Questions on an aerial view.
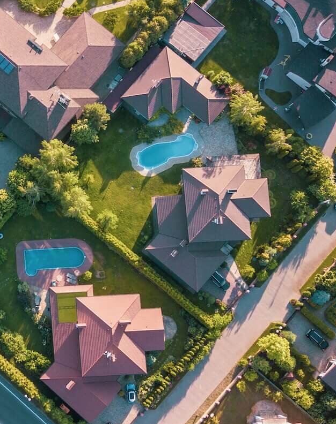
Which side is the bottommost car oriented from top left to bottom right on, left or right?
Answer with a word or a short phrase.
right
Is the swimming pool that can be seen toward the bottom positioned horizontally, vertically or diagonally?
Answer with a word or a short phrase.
horizontally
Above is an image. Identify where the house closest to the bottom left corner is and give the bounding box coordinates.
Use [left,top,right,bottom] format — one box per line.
[39,284,164,422]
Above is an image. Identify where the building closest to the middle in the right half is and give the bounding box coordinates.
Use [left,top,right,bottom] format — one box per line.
[145,158,271,291]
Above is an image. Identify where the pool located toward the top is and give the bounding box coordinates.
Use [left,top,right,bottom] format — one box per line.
[136,132,199,171]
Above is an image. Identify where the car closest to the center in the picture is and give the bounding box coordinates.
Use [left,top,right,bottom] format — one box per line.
[209,268,232,292]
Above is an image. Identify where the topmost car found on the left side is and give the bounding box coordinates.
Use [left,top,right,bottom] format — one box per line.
[125,383,137,404]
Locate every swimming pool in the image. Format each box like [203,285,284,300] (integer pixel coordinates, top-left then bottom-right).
[136,132,199,171]
[23,246,88,277]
